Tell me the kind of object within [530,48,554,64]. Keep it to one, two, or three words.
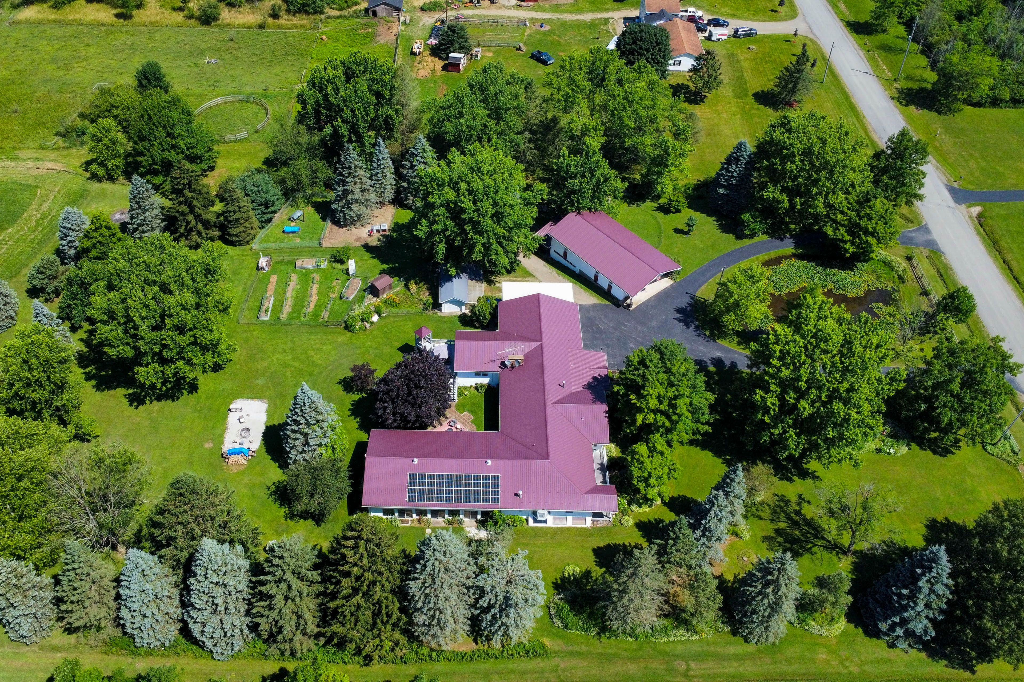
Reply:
vehicle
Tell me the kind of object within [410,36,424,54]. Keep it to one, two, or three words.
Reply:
boat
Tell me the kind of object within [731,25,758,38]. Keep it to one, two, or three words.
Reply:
vehicle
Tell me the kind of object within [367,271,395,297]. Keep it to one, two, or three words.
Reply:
shed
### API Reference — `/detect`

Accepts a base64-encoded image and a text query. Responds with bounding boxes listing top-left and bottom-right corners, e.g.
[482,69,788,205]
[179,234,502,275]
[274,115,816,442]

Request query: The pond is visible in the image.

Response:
[760,257,902,324]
